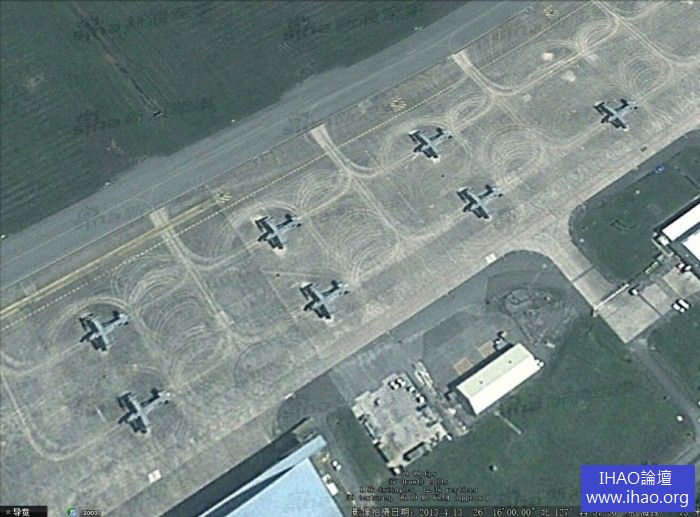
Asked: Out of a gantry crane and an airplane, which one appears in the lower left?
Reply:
airplane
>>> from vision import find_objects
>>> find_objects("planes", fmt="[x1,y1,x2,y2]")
[85,314,126,350]
[413,125,456,162]
[264,213,304,250]
[310,283,350,319]
[124,394,166,430]
[601,98,643,134]
[463,183,506,220]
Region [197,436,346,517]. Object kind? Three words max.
hangar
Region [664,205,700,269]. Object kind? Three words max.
building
